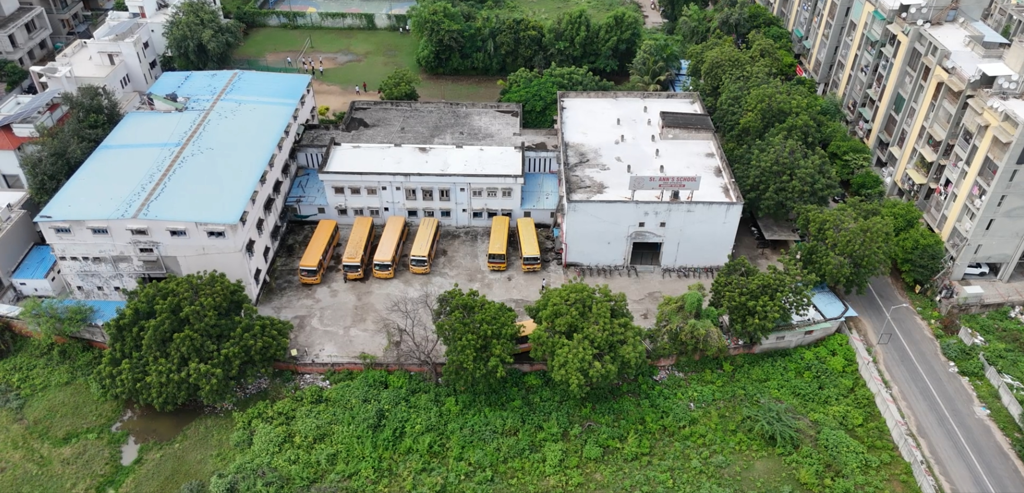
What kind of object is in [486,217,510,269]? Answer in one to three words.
bus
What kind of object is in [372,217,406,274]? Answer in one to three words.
bus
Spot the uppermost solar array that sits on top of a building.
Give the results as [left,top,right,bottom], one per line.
[95,12,149,41]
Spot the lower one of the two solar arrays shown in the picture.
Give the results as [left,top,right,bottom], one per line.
[0,85,67,140]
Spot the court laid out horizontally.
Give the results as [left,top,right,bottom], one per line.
[270,0,473,23]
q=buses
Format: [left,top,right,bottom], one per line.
[372,217,406,274]
[340,218,374,276]
[516,219,543,270]
[486,217,510,269]
[408,219,439,271]
[297,221,338,281]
